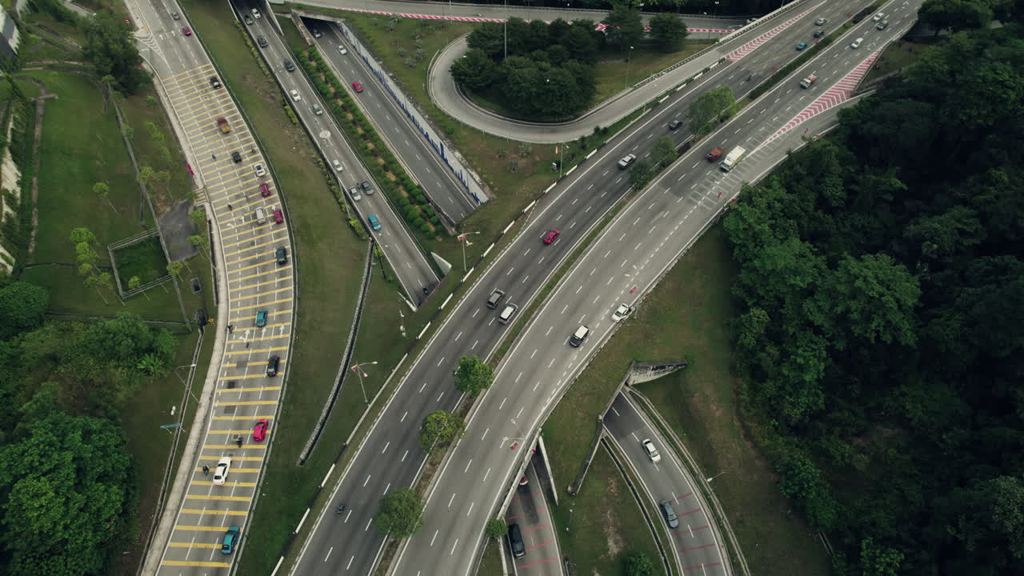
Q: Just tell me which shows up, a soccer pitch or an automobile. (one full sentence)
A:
Of the two, only an automobile appears.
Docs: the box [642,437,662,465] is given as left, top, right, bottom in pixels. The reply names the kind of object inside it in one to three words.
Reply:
car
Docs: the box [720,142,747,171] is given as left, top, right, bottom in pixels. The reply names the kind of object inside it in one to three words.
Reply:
truck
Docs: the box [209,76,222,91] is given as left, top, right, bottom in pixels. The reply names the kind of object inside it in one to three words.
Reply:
vehicle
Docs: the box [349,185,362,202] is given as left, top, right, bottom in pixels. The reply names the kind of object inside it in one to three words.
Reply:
vehicle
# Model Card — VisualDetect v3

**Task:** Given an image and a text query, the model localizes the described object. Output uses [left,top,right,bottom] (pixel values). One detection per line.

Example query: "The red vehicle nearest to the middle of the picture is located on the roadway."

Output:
[542,228,561,245]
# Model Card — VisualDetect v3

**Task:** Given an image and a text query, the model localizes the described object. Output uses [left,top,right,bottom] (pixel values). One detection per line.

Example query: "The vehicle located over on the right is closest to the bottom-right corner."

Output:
[660,498,679,529]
